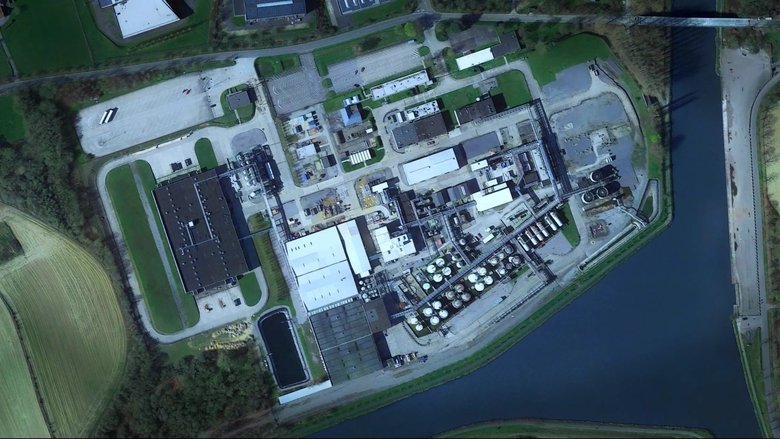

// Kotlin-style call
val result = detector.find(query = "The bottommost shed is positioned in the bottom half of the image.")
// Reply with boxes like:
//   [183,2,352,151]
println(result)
[278,381,332,405]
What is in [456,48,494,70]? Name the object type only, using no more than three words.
building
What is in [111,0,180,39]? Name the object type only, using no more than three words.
building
